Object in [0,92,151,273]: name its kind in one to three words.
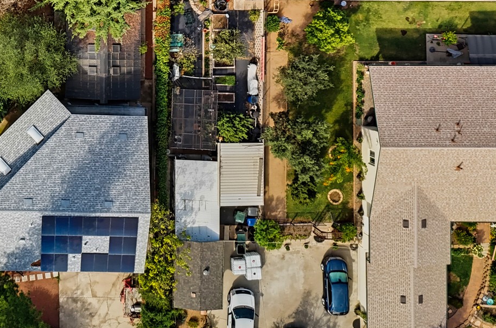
house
